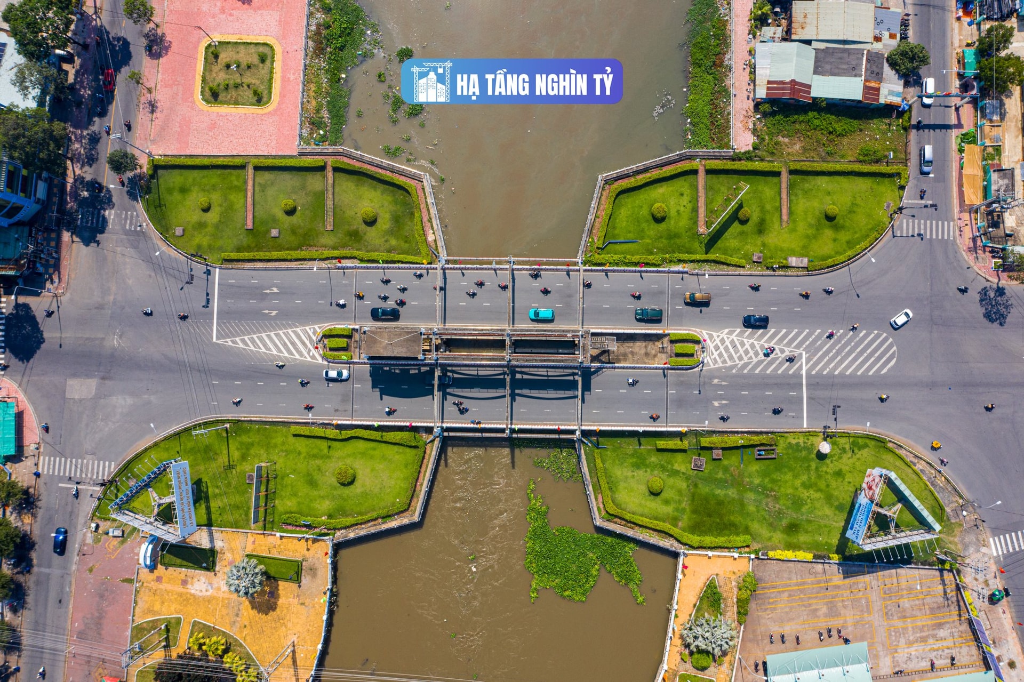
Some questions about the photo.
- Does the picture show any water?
Yes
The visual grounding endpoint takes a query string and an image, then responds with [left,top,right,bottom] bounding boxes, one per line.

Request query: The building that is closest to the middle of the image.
[361,329,435,358]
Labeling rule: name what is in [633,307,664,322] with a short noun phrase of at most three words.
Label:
car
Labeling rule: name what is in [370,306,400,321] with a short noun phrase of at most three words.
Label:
car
